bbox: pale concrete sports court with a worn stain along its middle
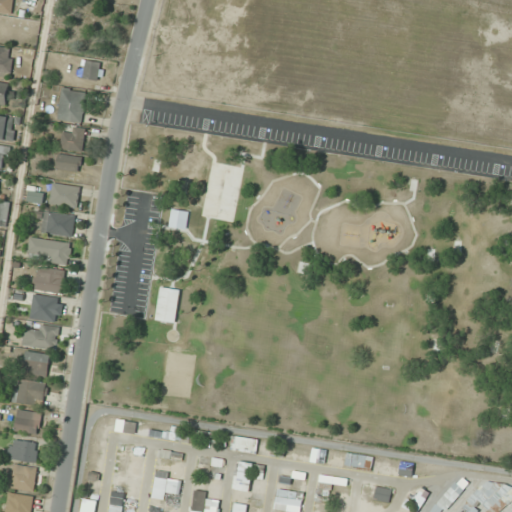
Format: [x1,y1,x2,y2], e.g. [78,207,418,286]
[202,162,244,222]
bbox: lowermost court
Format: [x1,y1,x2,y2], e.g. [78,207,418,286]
[164,352,196,398]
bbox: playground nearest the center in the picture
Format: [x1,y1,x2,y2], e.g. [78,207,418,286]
[258,188,302,234]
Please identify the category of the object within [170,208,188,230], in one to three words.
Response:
building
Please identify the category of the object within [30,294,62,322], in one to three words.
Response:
house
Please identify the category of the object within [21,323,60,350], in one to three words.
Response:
house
